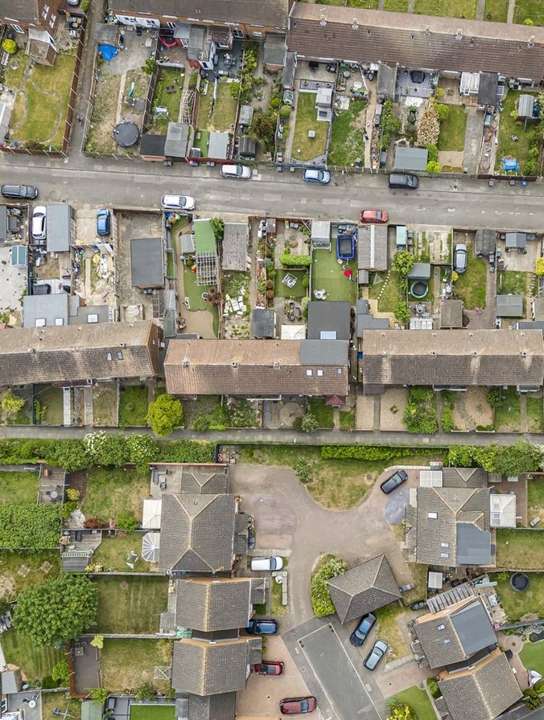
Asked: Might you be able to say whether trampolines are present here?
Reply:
Yes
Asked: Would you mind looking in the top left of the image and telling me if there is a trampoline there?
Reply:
Yes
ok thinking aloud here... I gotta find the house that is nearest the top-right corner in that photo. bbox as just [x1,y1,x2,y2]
[498,22,544,87]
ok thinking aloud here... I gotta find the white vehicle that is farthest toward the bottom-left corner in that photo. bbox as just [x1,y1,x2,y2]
[251,555,285,573]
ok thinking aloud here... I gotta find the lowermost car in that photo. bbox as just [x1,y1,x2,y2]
[278,695,318,713]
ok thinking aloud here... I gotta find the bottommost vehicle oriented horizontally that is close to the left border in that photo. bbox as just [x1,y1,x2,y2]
[1,184,38,201]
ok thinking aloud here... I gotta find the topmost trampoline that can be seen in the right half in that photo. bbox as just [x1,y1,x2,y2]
[335,231,354,258]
